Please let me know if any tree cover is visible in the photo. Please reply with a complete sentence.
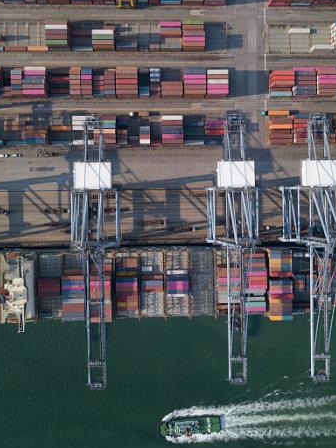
No, the scene doesn't show any tree cover.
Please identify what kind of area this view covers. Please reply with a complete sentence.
What you see here is a port.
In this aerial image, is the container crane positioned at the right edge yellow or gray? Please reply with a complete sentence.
The container crane positioned at the right edge is gray.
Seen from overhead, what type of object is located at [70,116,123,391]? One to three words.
container crane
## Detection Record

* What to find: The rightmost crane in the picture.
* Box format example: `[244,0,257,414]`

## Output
[278,114,336,384]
